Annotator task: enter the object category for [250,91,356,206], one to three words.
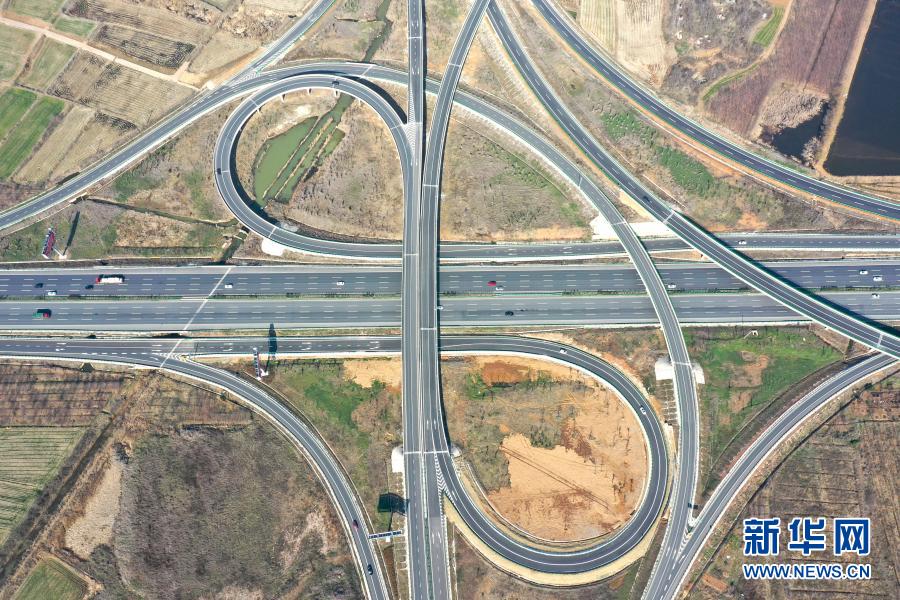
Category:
pond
